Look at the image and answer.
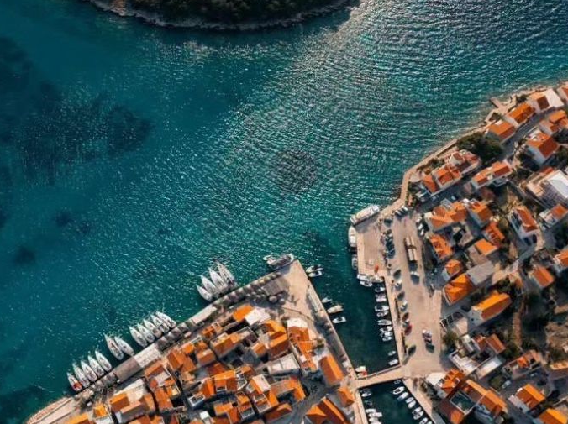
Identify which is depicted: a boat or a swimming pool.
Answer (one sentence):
It is a boat that can be seen here.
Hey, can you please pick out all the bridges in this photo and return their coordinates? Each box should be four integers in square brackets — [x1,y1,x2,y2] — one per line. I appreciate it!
[356,364,403,390]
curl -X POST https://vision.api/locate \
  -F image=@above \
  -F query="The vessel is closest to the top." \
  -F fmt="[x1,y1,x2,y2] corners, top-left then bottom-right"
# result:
[348,206,379,225]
